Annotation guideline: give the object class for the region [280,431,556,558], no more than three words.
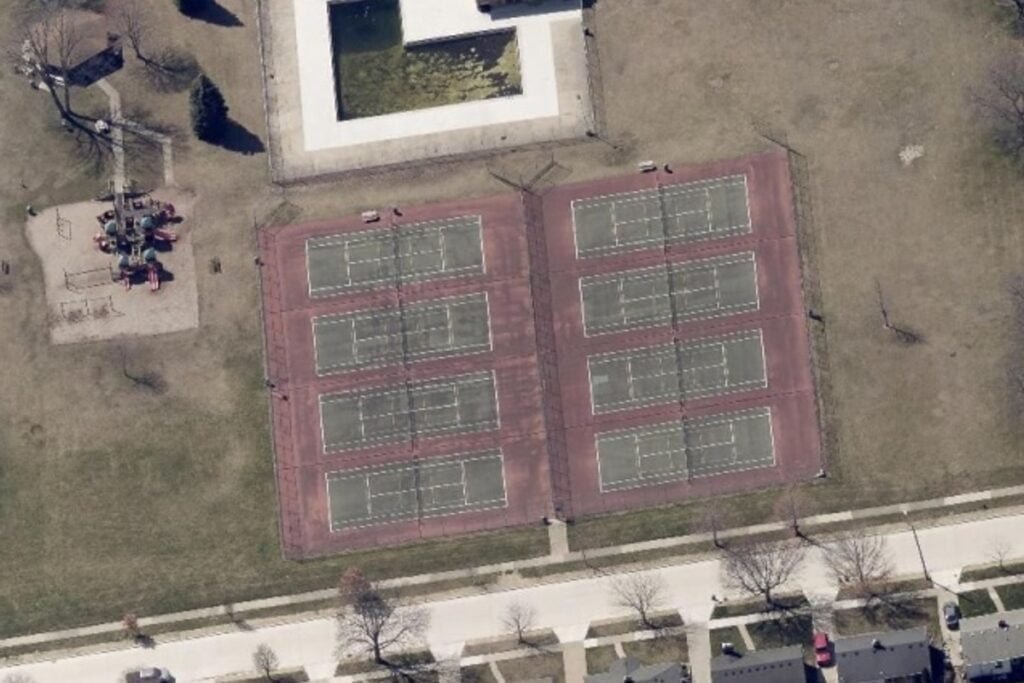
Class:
tennis court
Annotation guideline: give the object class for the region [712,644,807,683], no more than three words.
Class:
house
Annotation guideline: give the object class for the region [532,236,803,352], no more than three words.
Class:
tennis court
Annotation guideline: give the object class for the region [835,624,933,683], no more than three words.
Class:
house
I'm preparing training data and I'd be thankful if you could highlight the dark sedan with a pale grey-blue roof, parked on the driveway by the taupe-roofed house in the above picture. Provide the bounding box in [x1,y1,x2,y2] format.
[942,601,960,631]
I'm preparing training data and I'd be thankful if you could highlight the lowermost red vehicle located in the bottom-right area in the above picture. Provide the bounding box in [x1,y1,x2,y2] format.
[814,633,834,665]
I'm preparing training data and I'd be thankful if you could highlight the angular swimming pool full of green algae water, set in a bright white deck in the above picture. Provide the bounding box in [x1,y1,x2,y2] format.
[292,0,582,152]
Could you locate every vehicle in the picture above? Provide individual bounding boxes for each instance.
[942,601,960,631]
[126,668,174,683]
[814,633,834,665]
